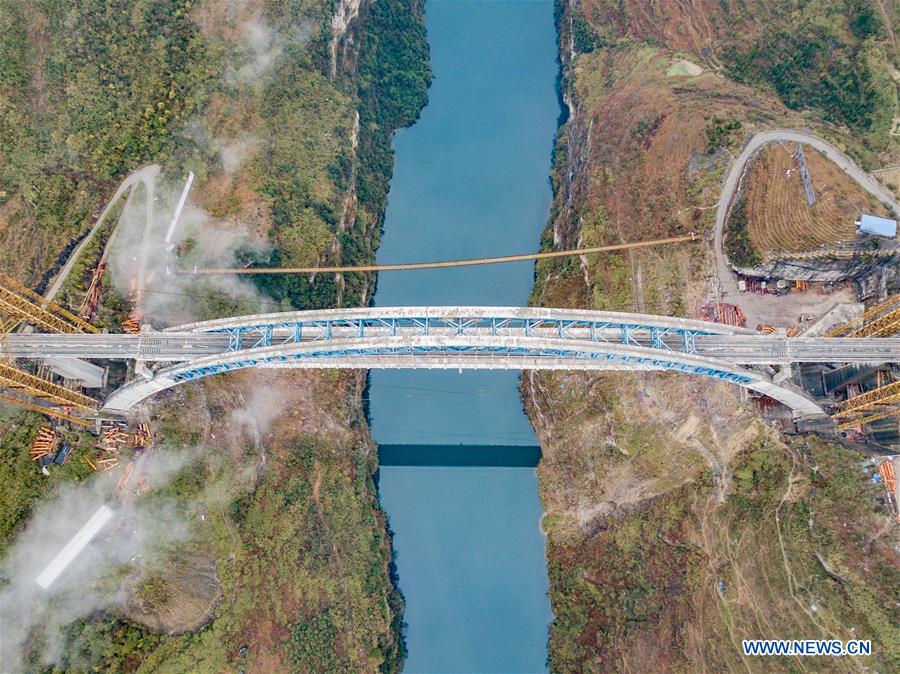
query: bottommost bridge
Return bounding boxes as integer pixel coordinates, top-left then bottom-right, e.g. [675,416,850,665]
[0,307,900,418]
